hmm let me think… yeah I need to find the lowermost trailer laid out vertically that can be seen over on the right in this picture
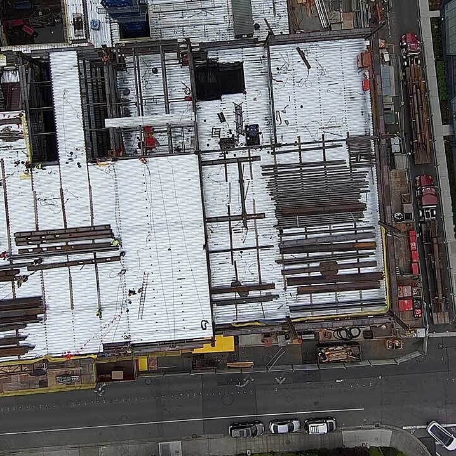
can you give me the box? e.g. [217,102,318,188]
[418,210,450,321]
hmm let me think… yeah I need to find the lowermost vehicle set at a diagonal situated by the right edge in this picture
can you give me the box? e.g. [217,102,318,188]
[423,419,456,451]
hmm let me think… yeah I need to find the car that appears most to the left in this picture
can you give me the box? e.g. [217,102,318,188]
[229,419,264,437]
